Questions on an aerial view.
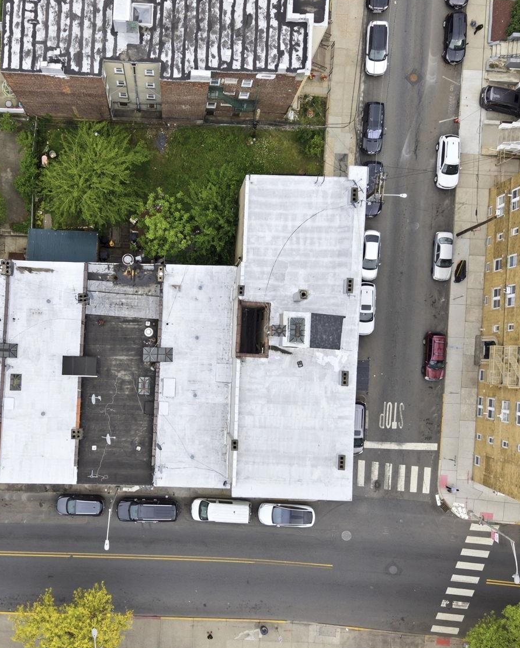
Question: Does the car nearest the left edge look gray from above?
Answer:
Yes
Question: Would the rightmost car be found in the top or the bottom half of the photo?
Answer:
top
